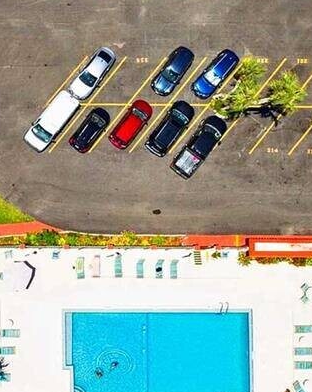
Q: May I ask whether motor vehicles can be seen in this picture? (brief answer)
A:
Yes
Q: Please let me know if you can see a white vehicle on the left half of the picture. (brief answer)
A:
Yes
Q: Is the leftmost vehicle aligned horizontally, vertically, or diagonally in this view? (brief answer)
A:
diagonally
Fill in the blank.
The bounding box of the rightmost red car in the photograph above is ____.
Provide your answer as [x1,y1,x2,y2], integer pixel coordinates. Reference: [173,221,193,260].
[105,99,152,152]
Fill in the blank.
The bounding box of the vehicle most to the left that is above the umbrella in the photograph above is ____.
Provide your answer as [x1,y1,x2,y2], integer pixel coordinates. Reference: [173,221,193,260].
[26,90,80,152]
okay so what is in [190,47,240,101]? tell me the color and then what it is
blue car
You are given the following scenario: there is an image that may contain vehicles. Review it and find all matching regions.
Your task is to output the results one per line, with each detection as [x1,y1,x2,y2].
[143,101,193,158]
[105,99,152,152]
[26,90,80,152]
[148,42,197,99]
[66,105,111,156]
[168,116,226,182]
[190,47,240,101]
[69,45,118,102]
